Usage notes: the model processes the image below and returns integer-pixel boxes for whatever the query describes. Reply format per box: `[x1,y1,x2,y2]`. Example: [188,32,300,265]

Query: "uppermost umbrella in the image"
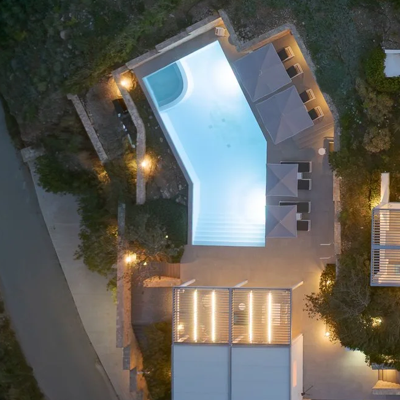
[232,42,292,102]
